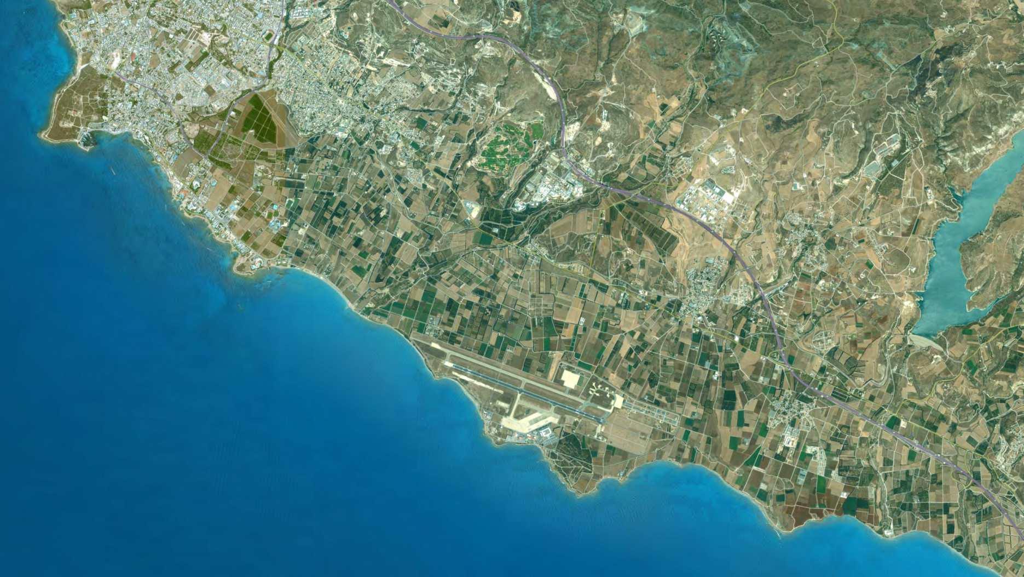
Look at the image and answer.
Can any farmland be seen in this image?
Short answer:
Yes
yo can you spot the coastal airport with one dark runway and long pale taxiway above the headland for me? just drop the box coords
[408,332,628,434]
